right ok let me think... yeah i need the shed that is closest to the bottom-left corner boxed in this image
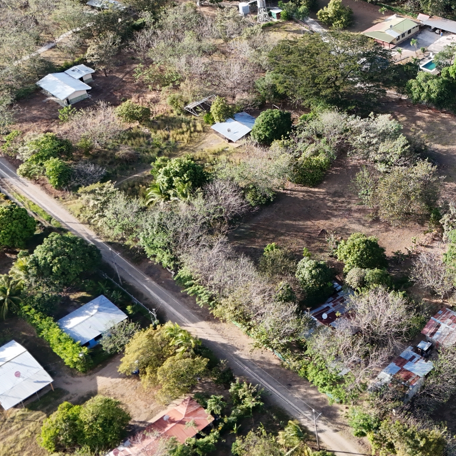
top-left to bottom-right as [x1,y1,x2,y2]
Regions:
[0,337,56,419]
